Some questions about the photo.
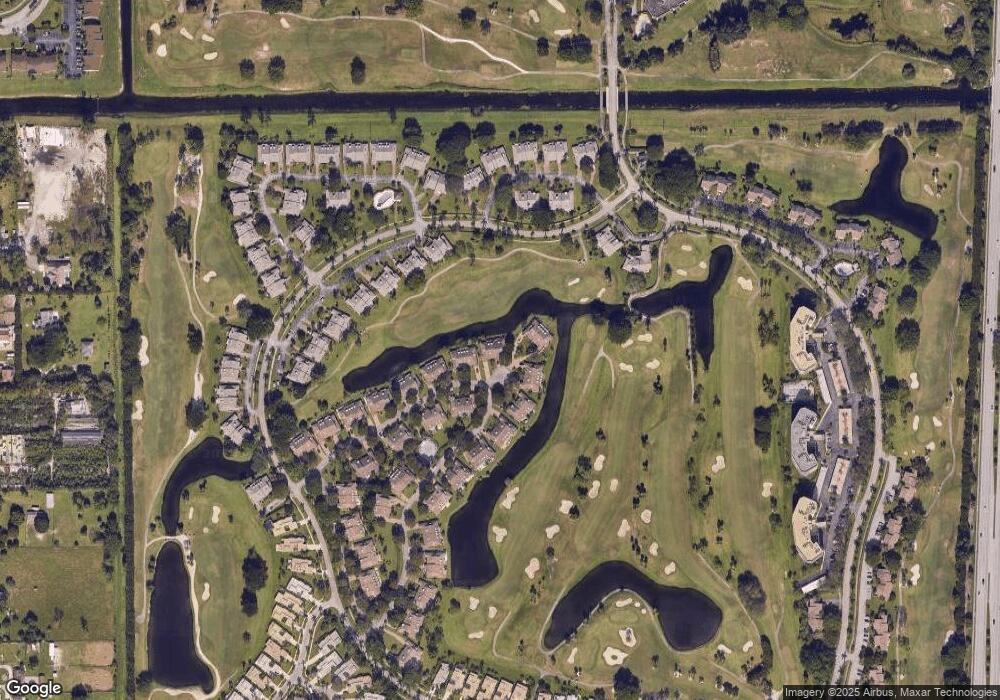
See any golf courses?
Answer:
Yes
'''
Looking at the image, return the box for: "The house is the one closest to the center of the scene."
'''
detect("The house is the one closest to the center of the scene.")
[479,337,504,359]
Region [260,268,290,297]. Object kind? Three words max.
house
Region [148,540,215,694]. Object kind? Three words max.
pond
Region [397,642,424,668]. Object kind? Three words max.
house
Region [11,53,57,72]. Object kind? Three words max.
building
